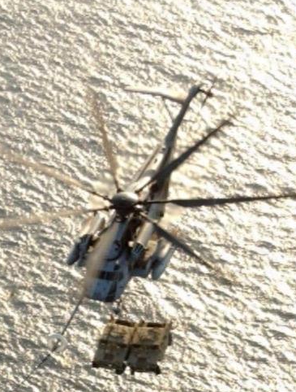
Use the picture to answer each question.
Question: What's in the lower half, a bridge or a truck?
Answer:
truck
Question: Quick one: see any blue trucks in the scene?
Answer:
No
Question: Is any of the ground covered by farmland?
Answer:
No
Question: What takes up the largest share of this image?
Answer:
water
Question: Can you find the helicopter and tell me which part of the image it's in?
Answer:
center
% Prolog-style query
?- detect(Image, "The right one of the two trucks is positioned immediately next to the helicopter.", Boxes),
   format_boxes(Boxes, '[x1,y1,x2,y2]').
[125,318,170,372]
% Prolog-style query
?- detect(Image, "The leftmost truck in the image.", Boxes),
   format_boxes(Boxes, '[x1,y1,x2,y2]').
[95,315,140,368]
